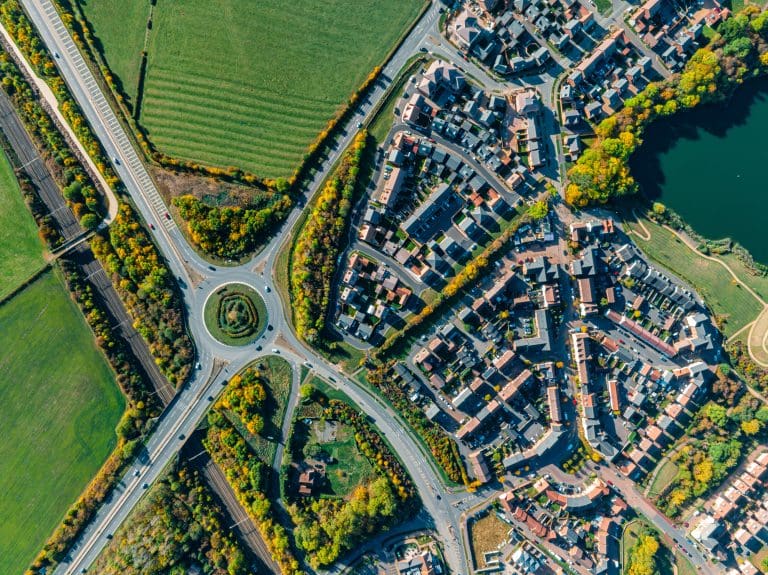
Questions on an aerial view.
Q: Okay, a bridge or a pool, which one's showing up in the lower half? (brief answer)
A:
bridge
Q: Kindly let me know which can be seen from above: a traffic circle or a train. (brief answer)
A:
traffic circle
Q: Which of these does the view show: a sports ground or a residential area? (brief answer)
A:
residential area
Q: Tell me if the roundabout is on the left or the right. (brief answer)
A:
left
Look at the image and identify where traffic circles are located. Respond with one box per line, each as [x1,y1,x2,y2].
[187,266,284,363]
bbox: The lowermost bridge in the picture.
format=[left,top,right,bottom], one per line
[148,380,222,442]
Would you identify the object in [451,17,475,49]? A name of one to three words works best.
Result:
building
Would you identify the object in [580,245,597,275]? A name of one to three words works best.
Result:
house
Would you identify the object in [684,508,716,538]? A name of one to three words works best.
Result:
building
